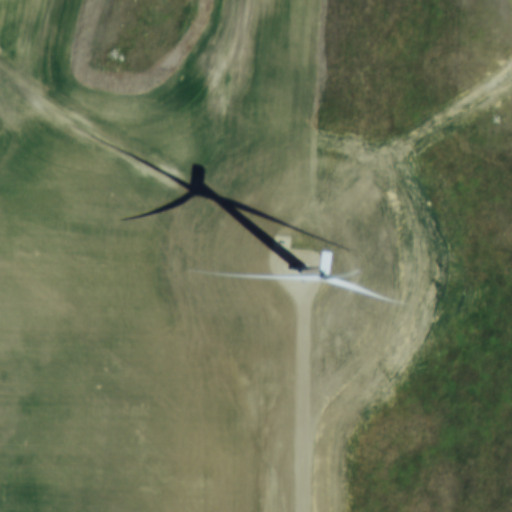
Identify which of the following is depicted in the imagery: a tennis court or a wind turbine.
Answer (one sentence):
It is a wind turbine that can be seen here.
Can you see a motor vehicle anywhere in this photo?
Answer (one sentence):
No, the picture doesn't show any motor vehicle.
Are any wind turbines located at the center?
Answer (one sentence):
Yes, a wind turbine can be seen at the center.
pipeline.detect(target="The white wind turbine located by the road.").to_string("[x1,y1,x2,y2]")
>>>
[199,250,408,304]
